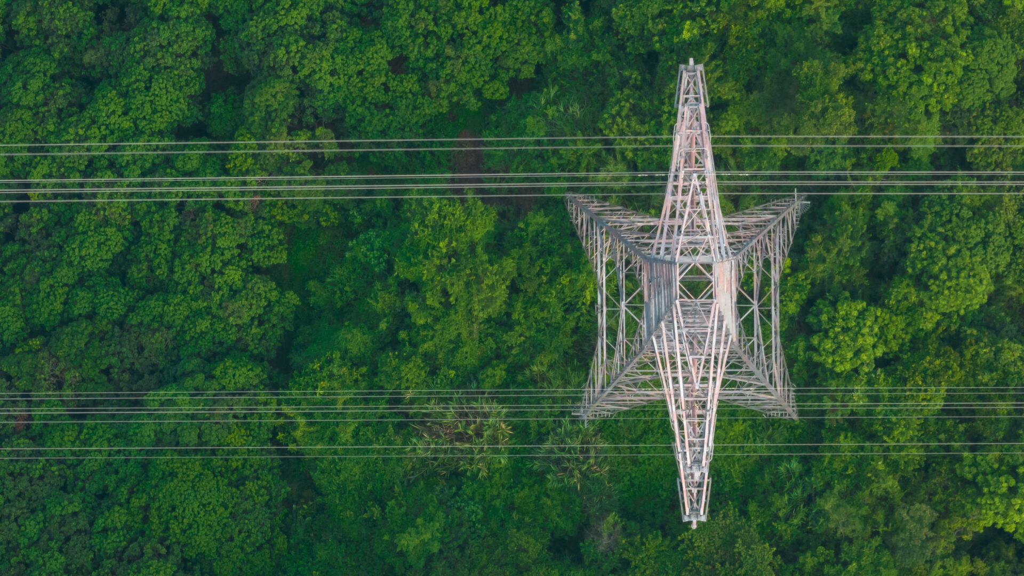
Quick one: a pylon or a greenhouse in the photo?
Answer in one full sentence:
Visible in the photo is a pylon.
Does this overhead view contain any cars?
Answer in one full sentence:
No, there is no car in the image.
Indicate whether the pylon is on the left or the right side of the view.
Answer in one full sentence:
It is on the right.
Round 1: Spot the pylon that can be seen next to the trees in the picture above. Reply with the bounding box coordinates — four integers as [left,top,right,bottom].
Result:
[560,55,815,532]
